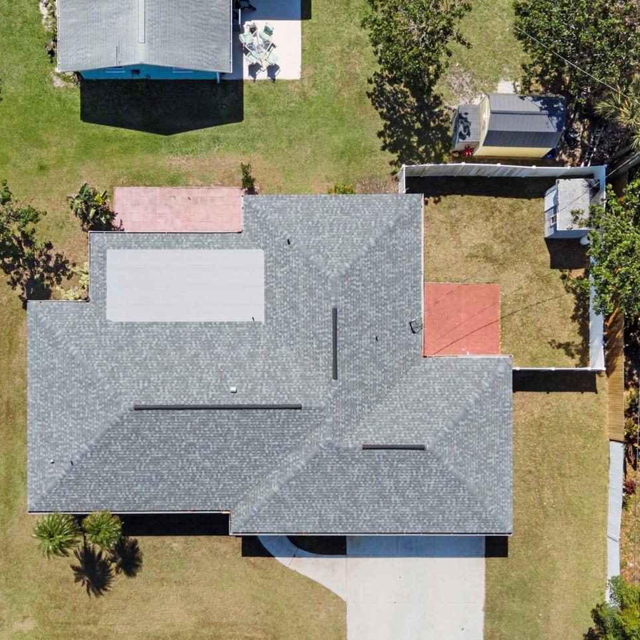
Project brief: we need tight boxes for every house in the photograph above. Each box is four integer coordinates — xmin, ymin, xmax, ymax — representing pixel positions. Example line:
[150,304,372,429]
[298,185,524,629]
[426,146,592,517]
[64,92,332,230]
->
[28,193,513,537]
[56,0,242,80]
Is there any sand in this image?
No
